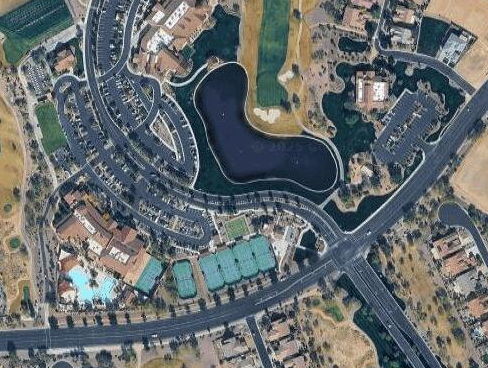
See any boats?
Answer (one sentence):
No, the scene contains no boat.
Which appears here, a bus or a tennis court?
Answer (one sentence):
This aerial view contains a tennis court.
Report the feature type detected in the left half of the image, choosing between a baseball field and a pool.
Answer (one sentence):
Looking in the left half of the image, you will find a pool.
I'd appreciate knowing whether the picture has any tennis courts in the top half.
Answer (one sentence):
No, in the top half there is no tennis court.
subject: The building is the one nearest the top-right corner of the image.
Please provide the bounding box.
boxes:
[440,29,470,62]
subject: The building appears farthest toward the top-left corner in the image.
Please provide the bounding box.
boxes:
[52,47,75,73]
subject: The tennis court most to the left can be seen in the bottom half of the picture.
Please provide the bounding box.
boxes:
[138,258,162,294]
